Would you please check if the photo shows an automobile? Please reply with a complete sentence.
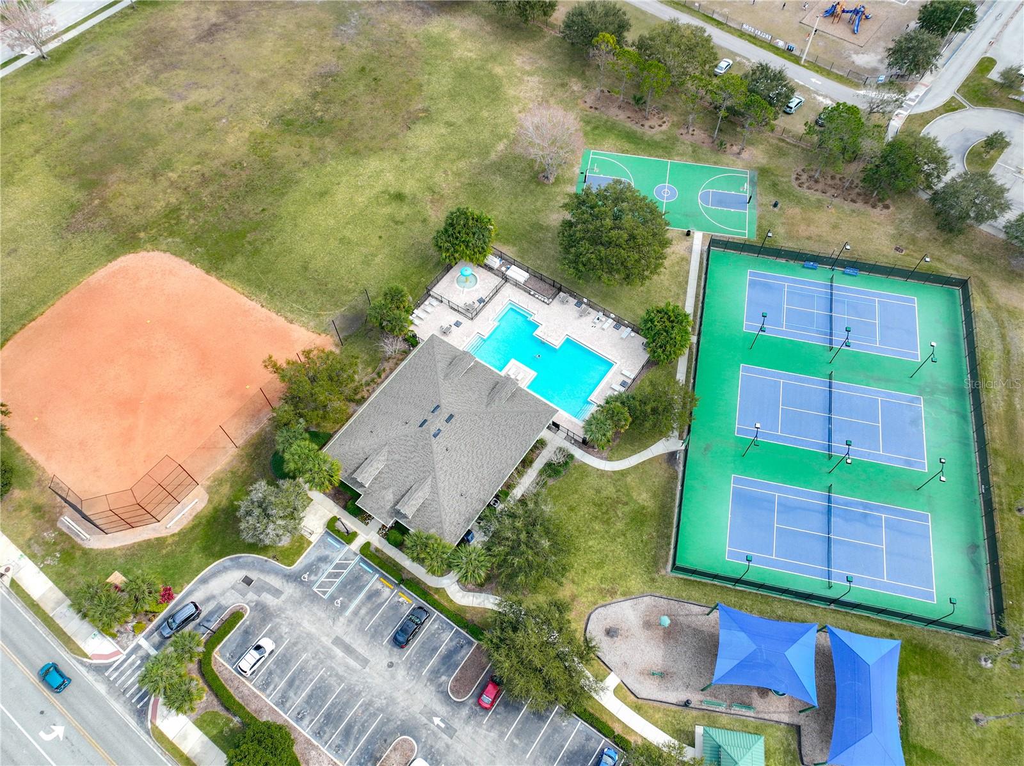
Yes, the frame does contain an automobile.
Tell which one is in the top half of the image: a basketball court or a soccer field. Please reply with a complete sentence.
Looking in the top half of the image, you will find a basketball court.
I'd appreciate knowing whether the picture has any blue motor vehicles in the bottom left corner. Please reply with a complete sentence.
Yes, a blue motor vehicle shows up in the bottom left corner.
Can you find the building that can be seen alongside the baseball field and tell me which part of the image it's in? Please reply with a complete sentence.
You can find the building that can be seen alongside the baseball field in the center area of the picture.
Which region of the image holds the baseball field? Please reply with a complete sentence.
The baseball field is in the left part of the image.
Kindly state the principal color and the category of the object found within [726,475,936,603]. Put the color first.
blue tennis court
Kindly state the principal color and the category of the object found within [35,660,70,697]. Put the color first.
blue car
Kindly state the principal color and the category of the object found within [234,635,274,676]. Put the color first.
white car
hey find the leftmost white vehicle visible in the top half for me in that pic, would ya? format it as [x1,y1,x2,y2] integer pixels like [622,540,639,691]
[713,56,735,73]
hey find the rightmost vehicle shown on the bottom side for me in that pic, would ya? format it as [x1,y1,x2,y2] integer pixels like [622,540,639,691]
[595,743,620,766]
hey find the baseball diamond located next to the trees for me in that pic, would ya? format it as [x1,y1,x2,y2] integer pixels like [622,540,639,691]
[0,251,341,548]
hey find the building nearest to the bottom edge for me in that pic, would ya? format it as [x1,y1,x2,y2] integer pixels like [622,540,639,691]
[701,727,765,766]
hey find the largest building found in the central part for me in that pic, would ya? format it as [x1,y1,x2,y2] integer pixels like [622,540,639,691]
[321,334,558,551]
